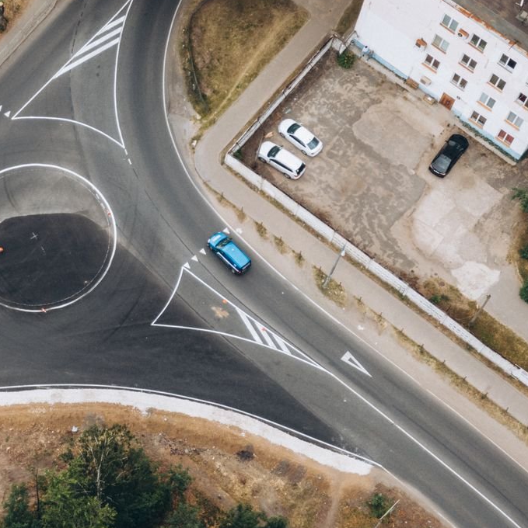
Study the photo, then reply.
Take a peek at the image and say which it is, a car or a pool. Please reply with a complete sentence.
The one in the frame is a car.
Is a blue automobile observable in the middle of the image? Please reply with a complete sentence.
Yes, looking in the middle of the image, one can make out a blue automobile.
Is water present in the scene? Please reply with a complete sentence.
No, water can't be seen anywhere here.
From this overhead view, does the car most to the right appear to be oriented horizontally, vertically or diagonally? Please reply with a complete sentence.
The car most to the right has been laid out diagonally relative to the frame.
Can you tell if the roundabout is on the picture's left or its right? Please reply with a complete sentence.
The roundabout appears in the left half of the scene.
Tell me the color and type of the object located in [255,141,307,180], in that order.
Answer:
white car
